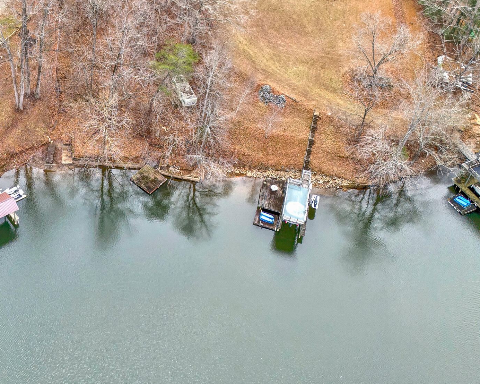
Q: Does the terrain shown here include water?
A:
Yes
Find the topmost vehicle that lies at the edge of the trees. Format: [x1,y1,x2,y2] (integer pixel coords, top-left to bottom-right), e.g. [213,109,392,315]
[168,80,196,117]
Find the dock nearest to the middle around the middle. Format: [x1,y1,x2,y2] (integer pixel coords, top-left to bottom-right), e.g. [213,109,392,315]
[257,166,313,239]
